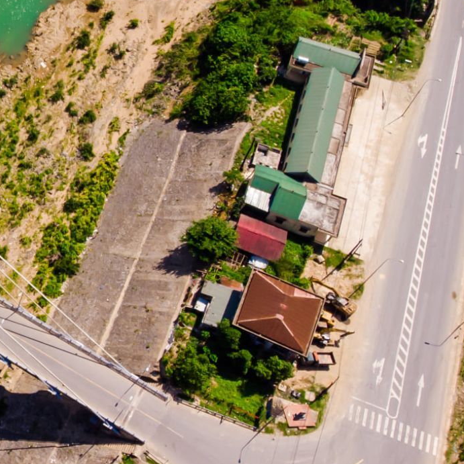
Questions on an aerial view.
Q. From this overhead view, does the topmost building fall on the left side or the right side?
right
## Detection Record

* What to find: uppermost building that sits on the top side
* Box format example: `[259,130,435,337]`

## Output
[277,37,377,101]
